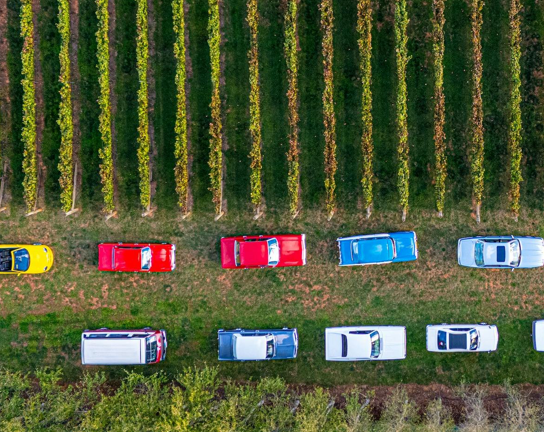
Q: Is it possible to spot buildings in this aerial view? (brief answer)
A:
No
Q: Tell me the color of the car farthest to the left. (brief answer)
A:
yellow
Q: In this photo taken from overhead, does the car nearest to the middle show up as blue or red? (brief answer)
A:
red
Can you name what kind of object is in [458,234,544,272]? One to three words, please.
car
